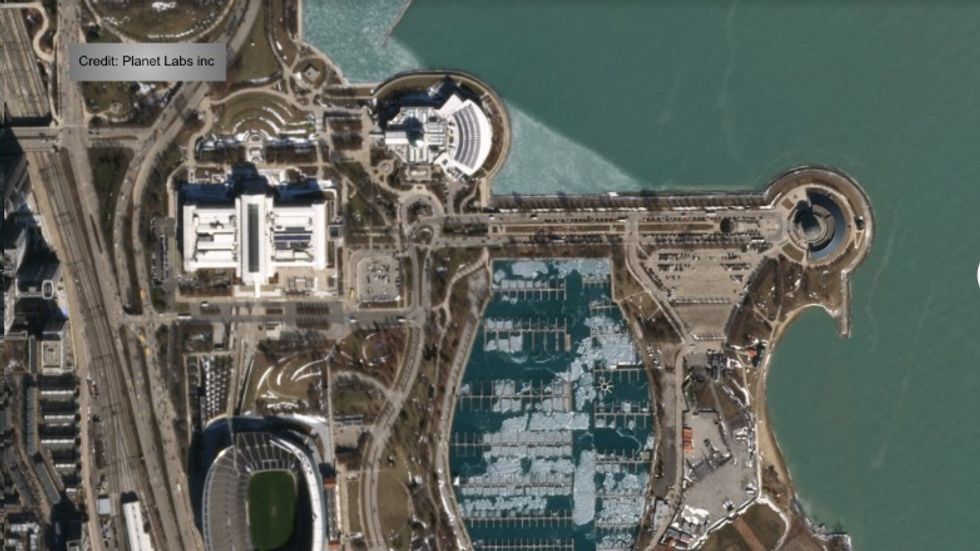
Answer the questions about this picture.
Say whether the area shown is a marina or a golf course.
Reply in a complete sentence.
The area seen from above is a marina.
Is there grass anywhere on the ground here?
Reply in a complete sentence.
Yes, grass can be seen from above here.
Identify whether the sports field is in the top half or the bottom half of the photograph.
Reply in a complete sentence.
Seen from above, the sports field lies in the bottom half of the view.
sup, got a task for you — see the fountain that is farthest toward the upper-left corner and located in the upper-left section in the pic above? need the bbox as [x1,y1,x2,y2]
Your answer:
[247,131,263,148]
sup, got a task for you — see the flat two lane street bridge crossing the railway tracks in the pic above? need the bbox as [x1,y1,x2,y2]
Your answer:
[0,127,70,151]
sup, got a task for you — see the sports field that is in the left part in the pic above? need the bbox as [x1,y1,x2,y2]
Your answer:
[246,468,300,551]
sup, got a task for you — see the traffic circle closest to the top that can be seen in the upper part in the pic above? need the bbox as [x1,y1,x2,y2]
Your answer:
[400,187,442,231]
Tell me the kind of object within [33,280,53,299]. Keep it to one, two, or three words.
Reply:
building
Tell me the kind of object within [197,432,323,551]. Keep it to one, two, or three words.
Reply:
stadium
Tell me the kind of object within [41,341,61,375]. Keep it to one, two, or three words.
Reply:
building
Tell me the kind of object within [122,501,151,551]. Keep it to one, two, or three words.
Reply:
shed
